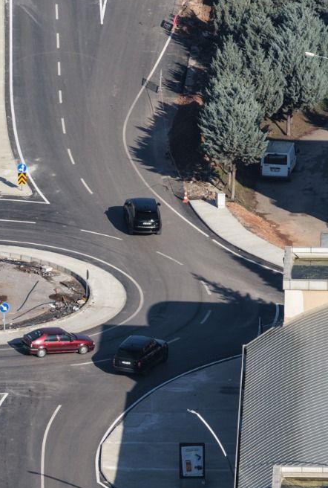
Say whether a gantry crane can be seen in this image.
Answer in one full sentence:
No, the frame has no gantry crane in it.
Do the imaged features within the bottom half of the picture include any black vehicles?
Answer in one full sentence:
Yes, you'll find a black vehicle within the bottom half of the picture.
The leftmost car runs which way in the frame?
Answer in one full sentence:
Seen from above, the leftmost car lies from left to right.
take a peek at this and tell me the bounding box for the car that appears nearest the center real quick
[121,196,161,231]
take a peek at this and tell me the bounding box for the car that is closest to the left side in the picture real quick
[20,325,97,357]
